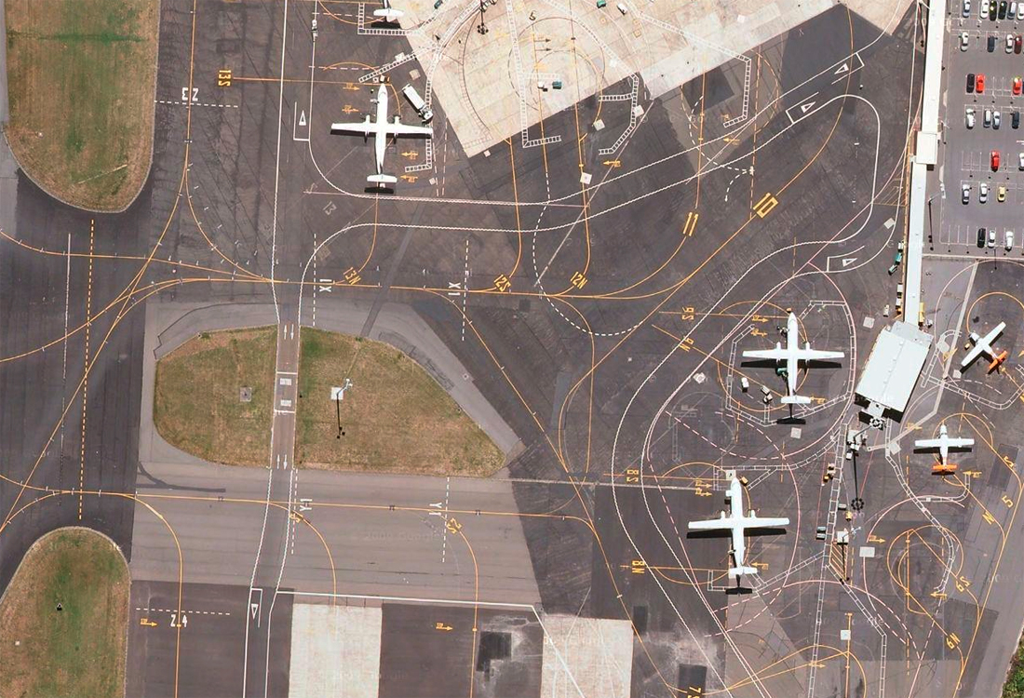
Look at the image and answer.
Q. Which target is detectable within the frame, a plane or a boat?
plane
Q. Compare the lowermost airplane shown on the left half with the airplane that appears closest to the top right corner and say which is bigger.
the lowermost airplane shown on the left half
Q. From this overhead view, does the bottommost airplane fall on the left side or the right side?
right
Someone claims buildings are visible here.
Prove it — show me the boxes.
[852,325,929,414]
[902,163,927,328]
[919,0,946,133]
